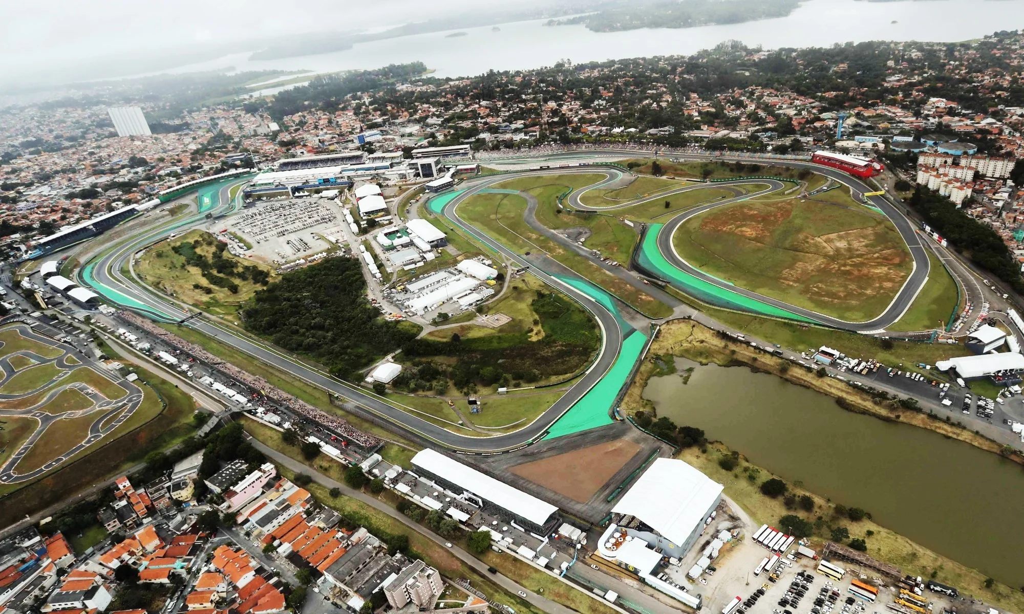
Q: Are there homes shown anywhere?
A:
Yes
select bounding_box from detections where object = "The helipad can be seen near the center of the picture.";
[474,308,511,327]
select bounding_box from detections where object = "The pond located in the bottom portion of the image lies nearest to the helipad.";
[641,356,1024,595]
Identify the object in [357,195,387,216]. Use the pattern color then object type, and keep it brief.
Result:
white tent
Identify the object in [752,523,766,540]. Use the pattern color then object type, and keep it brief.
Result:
white vehicle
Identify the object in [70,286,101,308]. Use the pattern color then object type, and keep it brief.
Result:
white tent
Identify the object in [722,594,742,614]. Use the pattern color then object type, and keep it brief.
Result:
white bus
